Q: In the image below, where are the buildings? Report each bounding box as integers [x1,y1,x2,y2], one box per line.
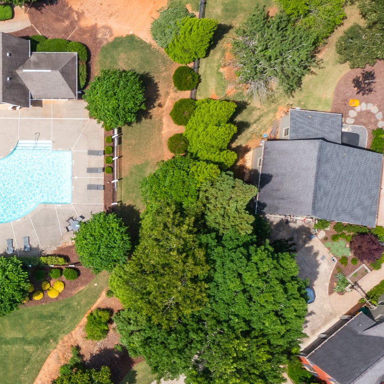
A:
[298,299,384,384]
[0,32,79,113]
[247,109,384,228]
